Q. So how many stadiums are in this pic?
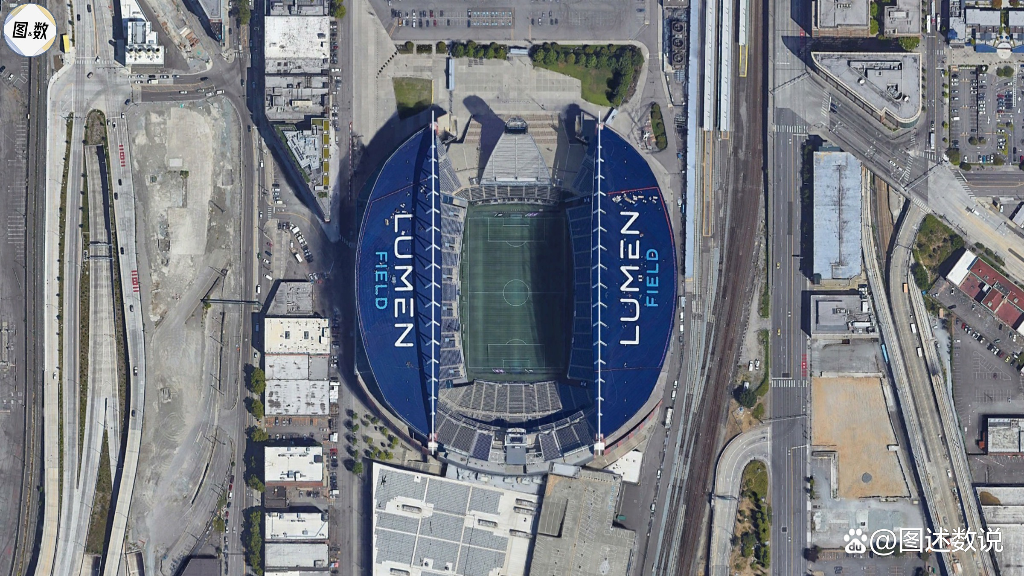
1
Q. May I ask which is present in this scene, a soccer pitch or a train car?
soccer pitch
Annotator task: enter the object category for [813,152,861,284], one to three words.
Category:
building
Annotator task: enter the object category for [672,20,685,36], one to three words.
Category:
cooling tower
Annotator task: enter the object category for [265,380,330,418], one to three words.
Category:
building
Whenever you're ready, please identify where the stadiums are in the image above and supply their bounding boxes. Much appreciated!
[355,111,678,479]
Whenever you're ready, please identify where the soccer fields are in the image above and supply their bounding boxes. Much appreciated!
[459,204,575,384]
